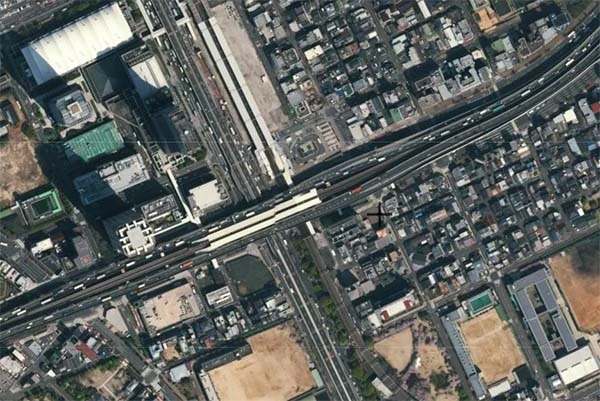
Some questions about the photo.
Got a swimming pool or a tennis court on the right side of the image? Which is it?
swimming pool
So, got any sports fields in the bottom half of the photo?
Yes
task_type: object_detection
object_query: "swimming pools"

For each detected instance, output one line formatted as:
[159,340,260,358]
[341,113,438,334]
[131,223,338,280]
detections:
[465,290,496,316]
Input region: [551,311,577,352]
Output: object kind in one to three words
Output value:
building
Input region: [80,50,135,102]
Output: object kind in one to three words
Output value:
building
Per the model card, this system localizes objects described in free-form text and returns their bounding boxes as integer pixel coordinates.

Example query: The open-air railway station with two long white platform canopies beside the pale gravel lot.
[199,17,295,186]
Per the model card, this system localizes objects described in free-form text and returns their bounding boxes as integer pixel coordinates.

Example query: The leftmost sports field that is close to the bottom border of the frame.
[208,322,315,401]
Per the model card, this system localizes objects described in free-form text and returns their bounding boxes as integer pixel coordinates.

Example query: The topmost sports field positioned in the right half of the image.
[551,241,600,333]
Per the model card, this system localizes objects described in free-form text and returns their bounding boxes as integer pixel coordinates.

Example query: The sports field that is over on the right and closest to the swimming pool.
[459,309,526,384]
